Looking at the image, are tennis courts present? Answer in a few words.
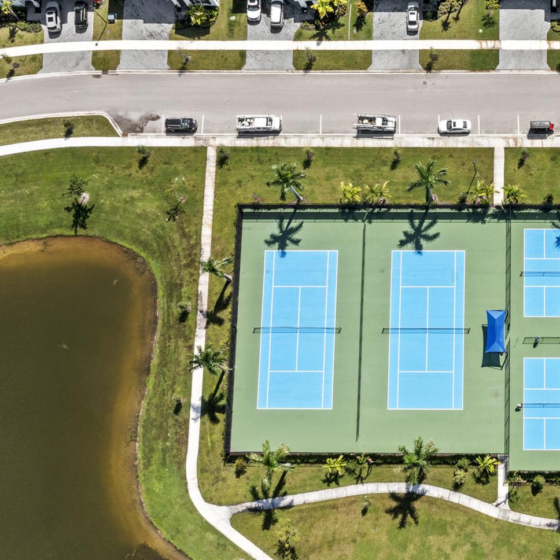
Yes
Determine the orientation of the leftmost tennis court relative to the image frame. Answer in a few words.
vertically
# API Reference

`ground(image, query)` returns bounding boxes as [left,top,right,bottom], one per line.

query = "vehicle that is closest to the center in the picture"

[230,115,280,133]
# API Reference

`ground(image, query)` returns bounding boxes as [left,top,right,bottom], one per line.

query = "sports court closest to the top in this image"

[524,229,560,317]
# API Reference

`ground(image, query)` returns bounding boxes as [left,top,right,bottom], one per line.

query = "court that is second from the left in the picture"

[388,250,465,410]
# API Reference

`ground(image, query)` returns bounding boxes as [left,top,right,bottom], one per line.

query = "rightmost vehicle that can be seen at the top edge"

[405,2,420,32]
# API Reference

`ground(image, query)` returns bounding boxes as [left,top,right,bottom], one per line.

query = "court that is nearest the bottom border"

[523,358,560,450]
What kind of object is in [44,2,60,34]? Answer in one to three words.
car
